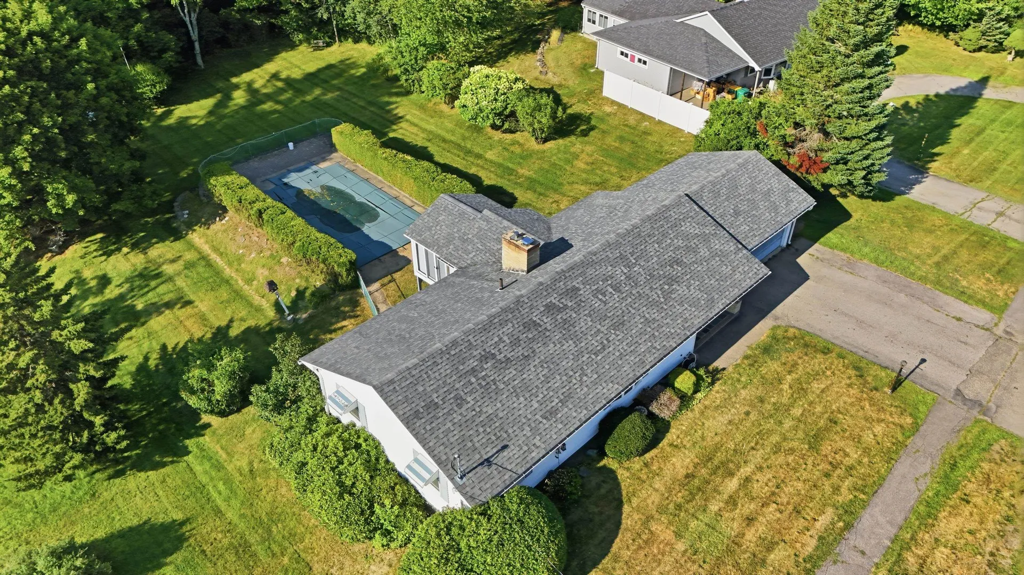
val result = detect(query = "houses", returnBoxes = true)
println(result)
[299,153,817,515]
[578,0,829,111]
